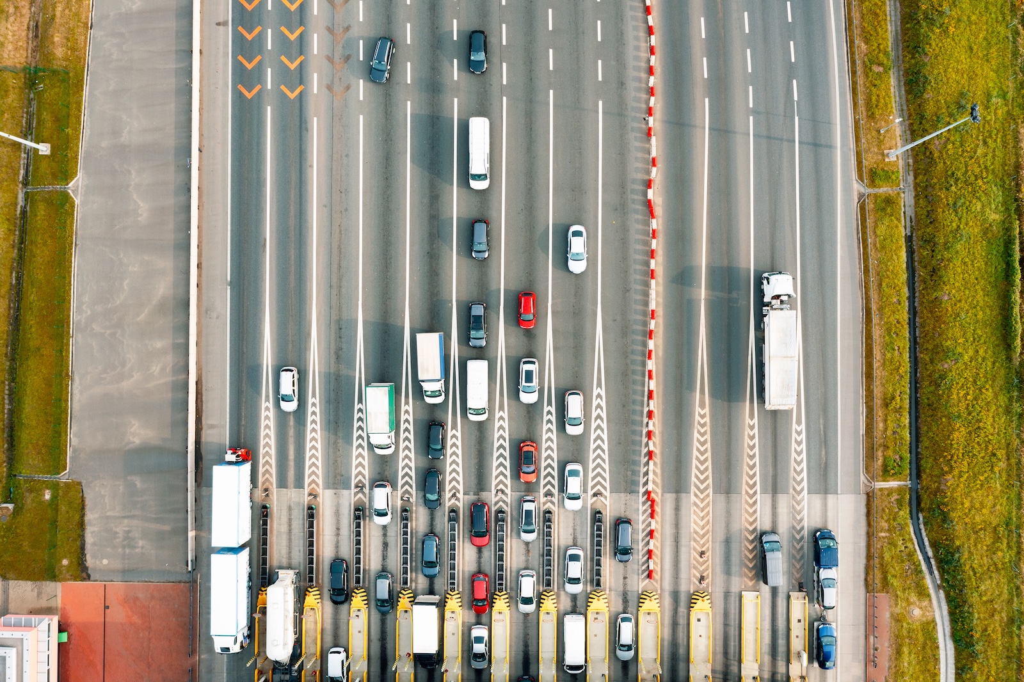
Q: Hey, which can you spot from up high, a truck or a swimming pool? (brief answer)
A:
truck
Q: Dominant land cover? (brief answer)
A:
paved ground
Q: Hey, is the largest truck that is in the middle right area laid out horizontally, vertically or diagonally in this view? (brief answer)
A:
vertically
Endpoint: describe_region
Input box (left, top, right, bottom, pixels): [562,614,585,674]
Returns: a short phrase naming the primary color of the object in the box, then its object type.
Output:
white vehicle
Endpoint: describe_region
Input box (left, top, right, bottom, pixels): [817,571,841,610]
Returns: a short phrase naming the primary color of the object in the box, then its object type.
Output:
white car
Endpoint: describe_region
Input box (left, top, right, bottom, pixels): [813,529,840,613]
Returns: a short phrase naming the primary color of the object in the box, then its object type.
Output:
blue truck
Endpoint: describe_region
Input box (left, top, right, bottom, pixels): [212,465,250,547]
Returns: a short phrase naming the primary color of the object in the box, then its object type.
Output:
white trailer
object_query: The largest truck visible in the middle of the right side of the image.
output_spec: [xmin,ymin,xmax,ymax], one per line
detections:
[757,272,796,410]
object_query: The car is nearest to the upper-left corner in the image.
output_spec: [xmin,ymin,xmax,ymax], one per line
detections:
[369,35,397,84]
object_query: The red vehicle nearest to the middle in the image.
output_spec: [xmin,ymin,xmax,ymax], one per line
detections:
[516,291,536,329]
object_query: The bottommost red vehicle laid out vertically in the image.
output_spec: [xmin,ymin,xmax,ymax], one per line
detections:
[469,572,489,613]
